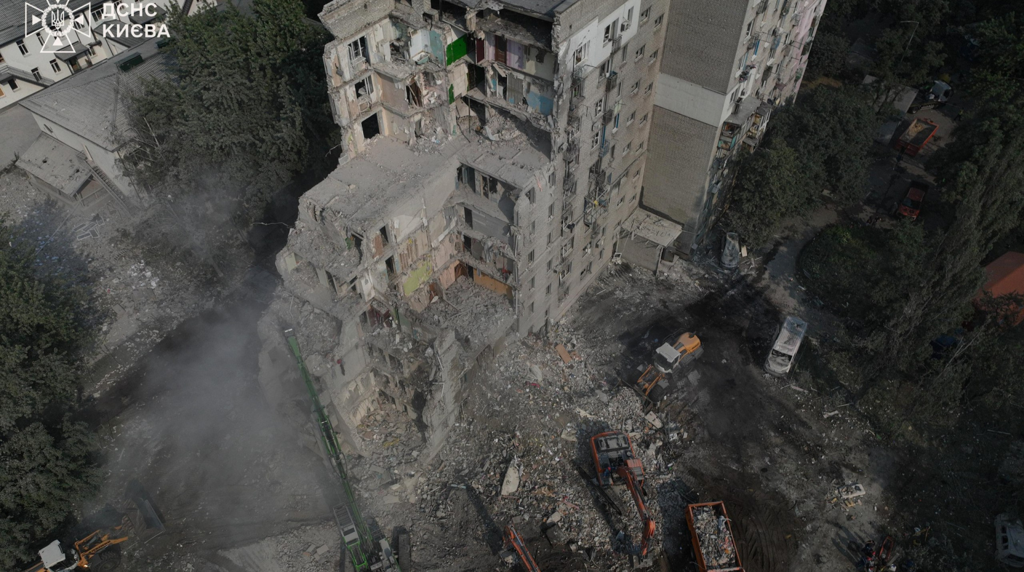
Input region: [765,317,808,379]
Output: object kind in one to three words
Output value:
van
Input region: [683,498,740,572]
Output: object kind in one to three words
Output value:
truck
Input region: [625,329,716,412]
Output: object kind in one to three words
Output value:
work vehicle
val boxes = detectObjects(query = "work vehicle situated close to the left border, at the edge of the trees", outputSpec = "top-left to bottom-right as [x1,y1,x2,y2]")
[6,505,152,572]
